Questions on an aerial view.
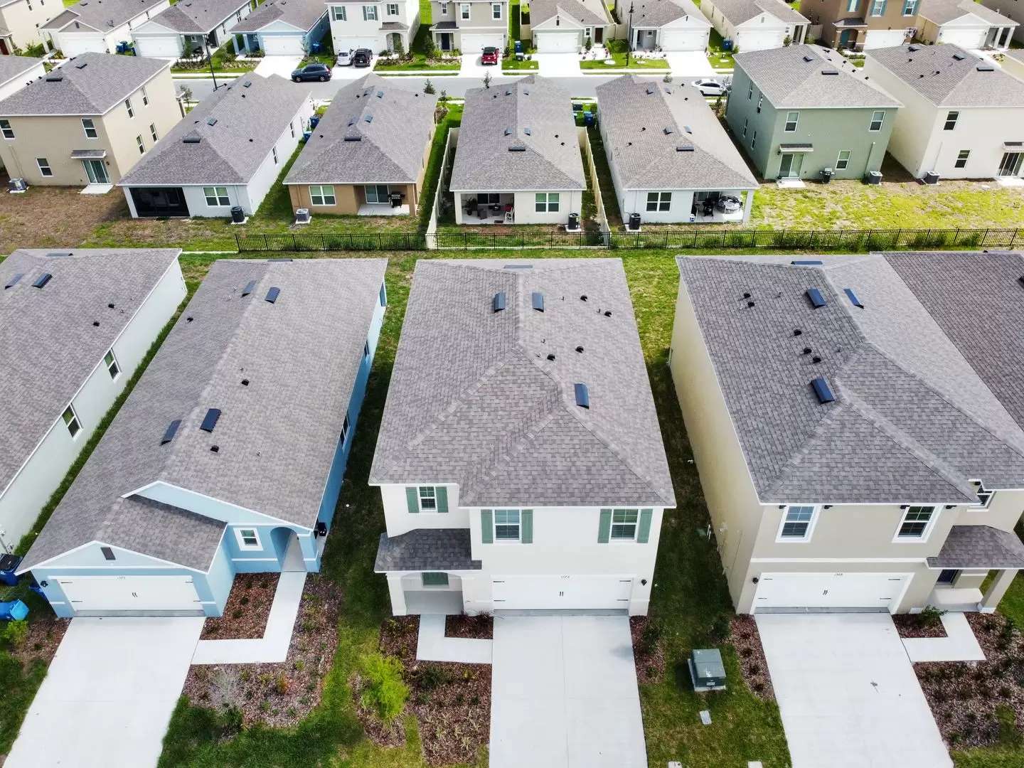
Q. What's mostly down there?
buildings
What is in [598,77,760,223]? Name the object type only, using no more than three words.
house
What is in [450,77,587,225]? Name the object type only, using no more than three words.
house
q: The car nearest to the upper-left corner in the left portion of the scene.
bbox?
[286,63,335,84]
